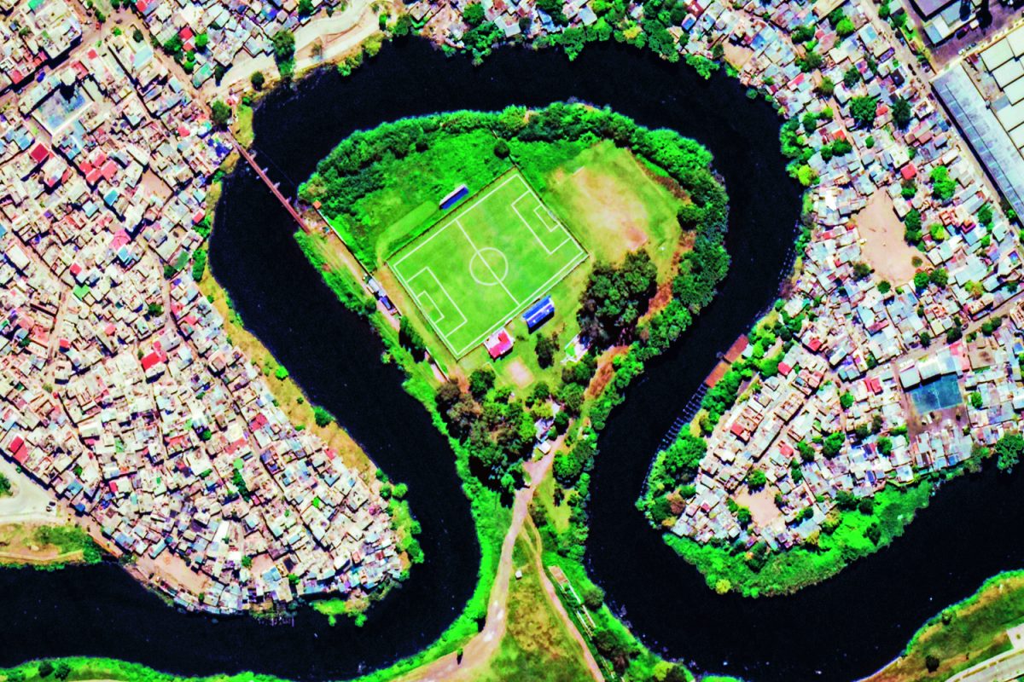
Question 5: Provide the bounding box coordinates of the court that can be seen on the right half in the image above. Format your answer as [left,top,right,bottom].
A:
[912,375,964,416]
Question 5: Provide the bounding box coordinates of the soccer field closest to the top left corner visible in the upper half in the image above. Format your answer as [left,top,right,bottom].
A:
[387,166,589,361]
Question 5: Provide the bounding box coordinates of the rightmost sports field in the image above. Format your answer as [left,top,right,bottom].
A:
[548,141,679,279]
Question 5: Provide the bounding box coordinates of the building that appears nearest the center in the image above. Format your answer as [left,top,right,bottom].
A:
[483,328,513,357]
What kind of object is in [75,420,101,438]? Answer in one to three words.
house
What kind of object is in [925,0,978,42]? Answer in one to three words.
building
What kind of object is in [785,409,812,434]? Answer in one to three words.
house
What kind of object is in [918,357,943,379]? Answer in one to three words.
building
